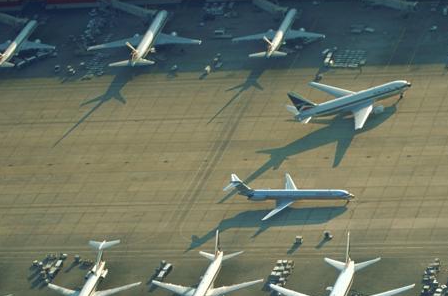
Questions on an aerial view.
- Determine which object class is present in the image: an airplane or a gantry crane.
airplane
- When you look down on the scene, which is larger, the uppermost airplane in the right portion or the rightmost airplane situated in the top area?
the rightmost airplane situated in the top area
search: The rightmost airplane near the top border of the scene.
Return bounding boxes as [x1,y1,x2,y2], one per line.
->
[233,8,325,56]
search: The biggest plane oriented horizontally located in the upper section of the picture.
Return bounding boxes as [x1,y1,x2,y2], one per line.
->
[282,80,410,126]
